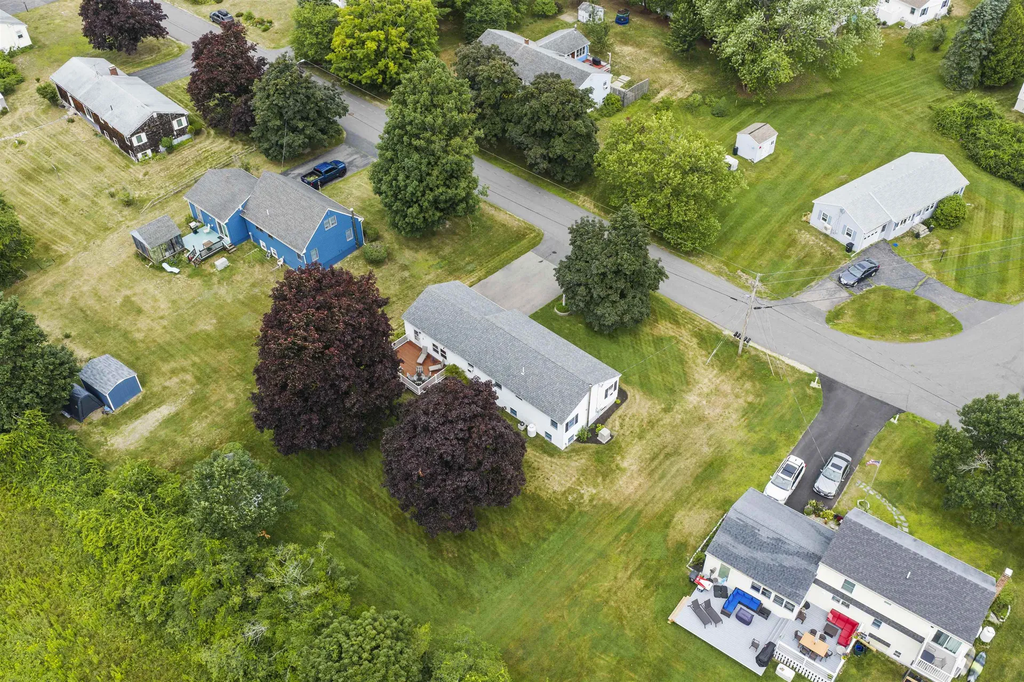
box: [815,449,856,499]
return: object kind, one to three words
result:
car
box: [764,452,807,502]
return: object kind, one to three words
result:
car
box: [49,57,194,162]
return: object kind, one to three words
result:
house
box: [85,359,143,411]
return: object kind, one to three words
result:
shed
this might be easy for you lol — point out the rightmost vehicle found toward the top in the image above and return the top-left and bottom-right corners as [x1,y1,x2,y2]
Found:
[838,258,882,286]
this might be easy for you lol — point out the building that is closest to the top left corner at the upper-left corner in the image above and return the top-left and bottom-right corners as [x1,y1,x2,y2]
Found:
[0,4,33,54]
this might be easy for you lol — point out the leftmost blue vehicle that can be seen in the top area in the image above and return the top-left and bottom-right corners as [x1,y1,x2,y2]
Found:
[299,160,347,187]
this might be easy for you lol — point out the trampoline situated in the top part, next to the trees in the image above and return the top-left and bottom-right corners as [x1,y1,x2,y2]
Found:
[612,4,634,27]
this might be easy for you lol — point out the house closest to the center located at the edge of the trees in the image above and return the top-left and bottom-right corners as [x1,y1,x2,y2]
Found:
[374,279,624,450]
